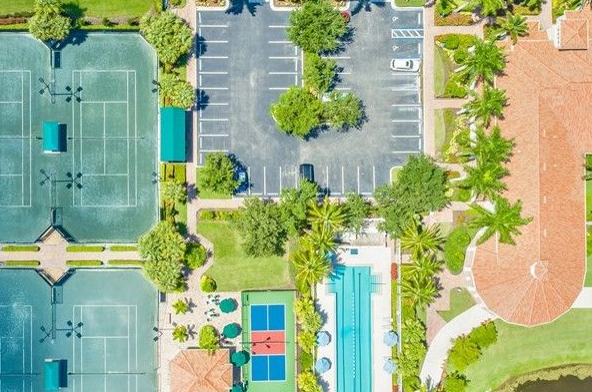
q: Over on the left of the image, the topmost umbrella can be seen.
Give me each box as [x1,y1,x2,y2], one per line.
[217,296,237,314]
